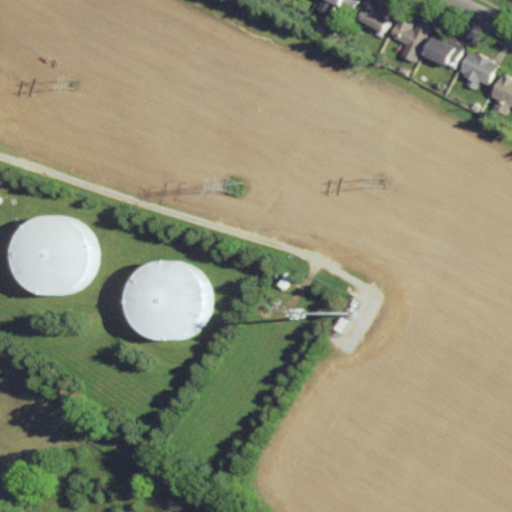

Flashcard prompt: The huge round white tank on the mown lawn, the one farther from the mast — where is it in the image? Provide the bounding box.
[8,215,102,296]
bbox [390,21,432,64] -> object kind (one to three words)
house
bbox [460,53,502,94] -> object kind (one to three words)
house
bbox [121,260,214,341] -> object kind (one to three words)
water tank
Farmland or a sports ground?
farmland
